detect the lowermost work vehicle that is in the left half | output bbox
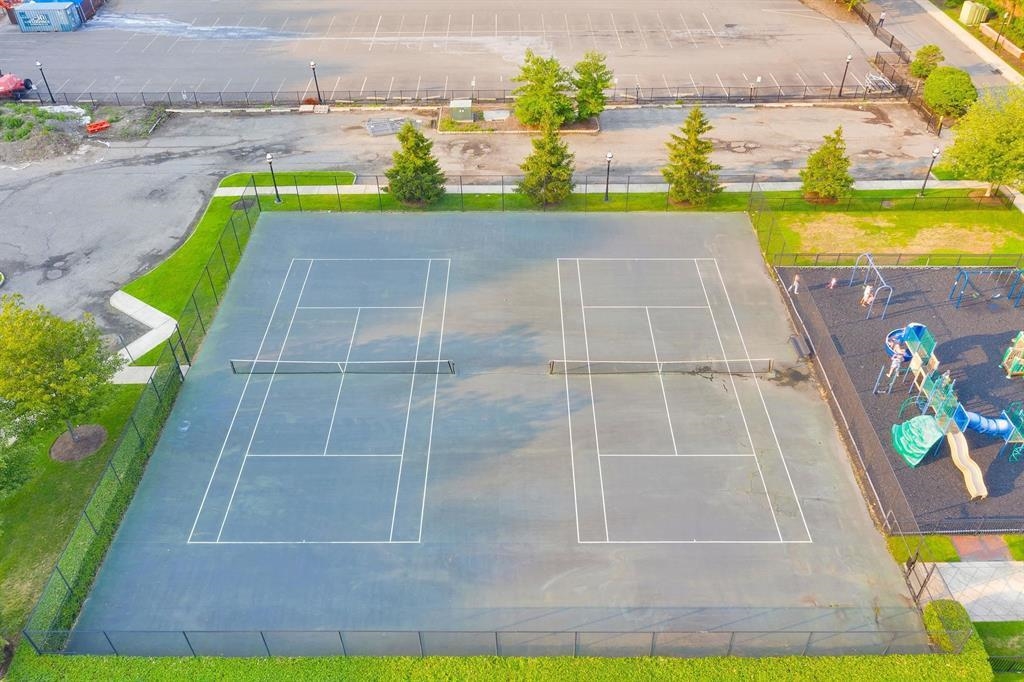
[0,70,35,98]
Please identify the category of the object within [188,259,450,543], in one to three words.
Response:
tennis court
